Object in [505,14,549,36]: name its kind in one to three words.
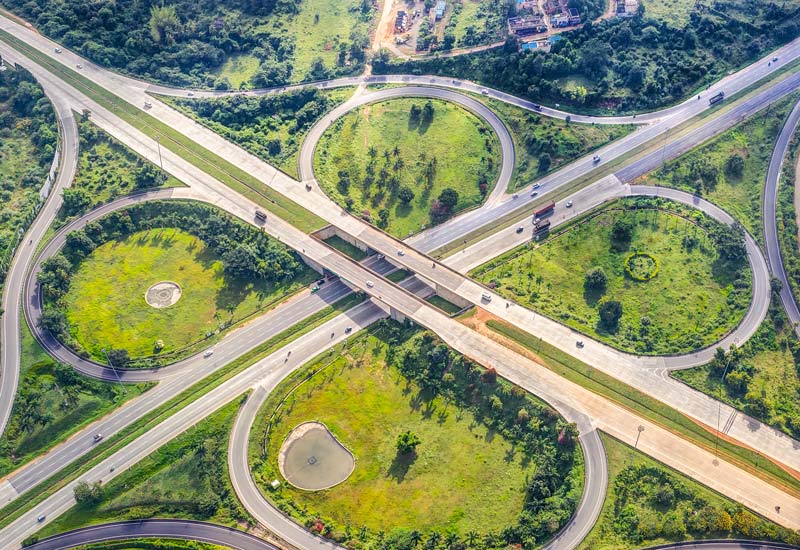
house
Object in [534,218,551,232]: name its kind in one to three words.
vehicle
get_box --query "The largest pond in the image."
[277,420,355,492]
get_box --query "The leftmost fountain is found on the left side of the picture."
[143,277,182,308]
